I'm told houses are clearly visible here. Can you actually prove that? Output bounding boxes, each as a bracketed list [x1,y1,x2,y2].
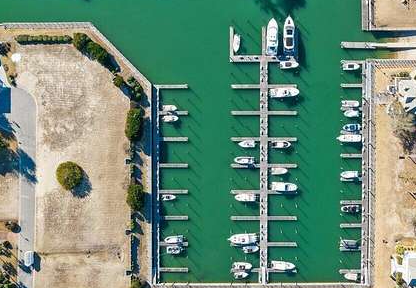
[383,77,416,118]
[383,246,416,288]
